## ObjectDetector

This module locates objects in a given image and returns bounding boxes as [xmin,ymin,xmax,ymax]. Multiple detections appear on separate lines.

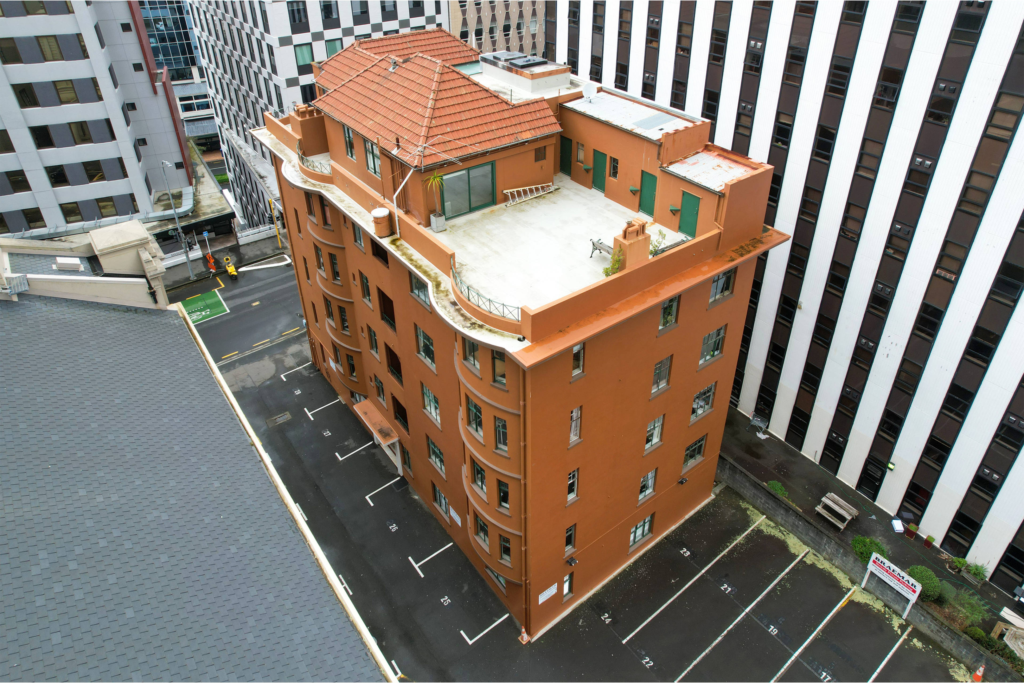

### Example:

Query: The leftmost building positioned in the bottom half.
[0,219,392,683]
